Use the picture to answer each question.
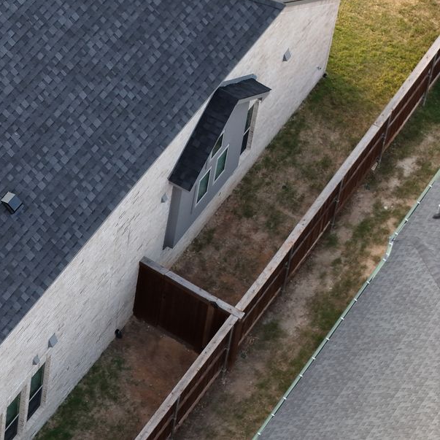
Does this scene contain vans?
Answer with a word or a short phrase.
No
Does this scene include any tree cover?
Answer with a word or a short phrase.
No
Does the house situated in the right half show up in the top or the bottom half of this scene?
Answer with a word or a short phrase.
bottom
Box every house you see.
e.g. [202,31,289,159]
[250,168,440,440]
[0,0,340,440]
